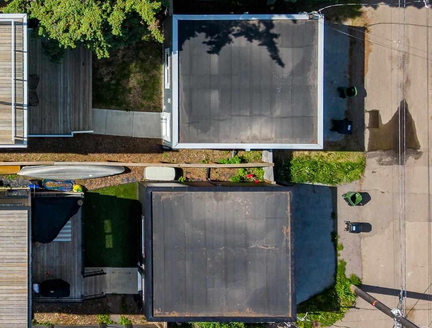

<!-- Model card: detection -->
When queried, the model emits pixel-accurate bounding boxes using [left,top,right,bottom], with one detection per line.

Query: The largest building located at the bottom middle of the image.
[136,182,297,321]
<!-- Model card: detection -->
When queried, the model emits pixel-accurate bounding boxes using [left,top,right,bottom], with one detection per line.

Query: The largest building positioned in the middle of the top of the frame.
[162,15,328,149]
